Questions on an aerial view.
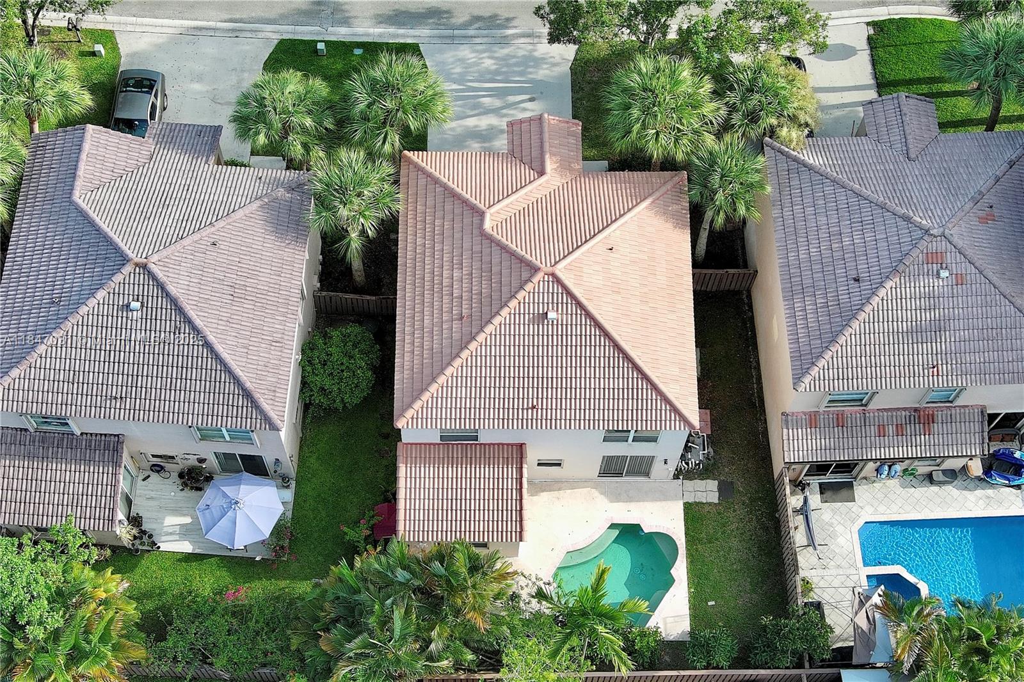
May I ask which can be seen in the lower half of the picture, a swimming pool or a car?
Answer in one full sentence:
What appears in the lower half of the picture is a swimming pool.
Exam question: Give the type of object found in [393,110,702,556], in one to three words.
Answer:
house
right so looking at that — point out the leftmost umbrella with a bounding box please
[199,472,281,550]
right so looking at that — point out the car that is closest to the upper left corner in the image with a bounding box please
[114,70,166,136]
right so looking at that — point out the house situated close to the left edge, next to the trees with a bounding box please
[0,122,322,543]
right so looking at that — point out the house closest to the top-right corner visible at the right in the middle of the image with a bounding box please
[746,91,1024,489]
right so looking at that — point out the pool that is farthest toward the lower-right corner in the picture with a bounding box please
[851,508,1024,652]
